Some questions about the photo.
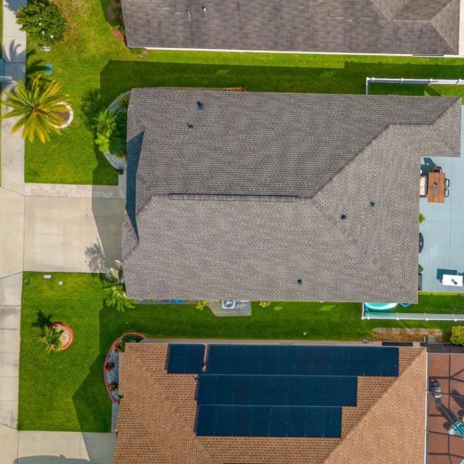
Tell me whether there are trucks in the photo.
No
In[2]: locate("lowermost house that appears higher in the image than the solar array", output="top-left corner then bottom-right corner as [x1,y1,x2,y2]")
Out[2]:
[121,89,463,304]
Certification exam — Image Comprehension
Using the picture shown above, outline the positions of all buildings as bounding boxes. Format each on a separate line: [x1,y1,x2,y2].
[121,89,463,304]
[113,338,427,464]
[119,0,459,60]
